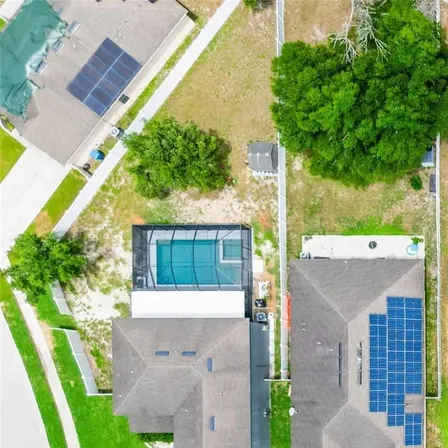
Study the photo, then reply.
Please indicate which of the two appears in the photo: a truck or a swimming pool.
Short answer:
swimming pool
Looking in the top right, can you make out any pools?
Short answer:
No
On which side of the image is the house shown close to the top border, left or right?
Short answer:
left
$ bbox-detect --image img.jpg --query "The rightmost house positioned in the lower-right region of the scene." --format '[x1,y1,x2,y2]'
[287,259,425,448]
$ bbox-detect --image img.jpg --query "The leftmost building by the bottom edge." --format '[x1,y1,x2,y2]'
[112,290,269,448]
